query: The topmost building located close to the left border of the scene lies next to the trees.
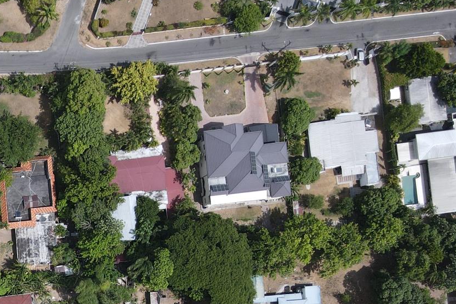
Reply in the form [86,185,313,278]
[0,156,57,265]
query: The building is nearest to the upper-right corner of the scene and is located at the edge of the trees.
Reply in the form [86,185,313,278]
[385,77,448,127]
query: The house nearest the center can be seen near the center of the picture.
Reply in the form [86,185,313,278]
[196,123,291,210]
